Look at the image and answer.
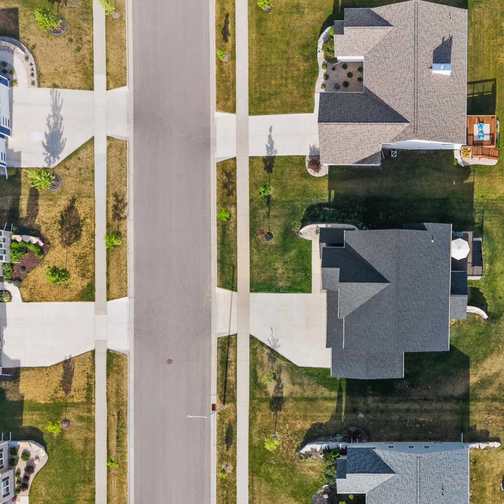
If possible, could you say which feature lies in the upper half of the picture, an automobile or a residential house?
residential house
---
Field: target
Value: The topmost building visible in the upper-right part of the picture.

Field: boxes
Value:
[318,0,469,172]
